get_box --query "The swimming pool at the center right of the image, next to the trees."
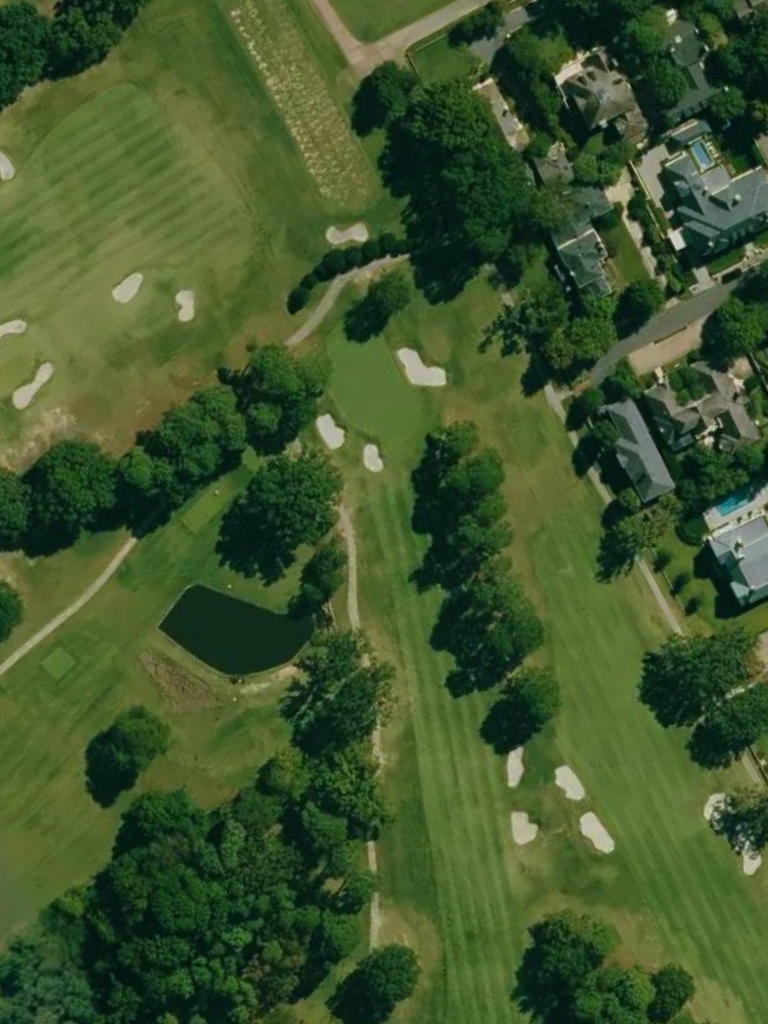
[717,492,753,516]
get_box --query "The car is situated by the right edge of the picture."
[723,269,740,281]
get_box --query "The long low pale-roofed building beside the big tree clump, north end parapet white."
[484,76,529,149]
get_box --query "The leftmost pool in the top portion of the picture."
[690,138,714,169]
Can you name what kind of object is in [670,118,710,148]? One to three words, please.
building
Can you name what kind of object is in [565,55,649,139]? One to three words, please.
house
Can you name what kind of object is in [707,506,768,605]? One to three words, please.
house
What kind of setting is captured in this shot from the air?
golf course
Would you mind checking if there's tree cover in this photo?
Yes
